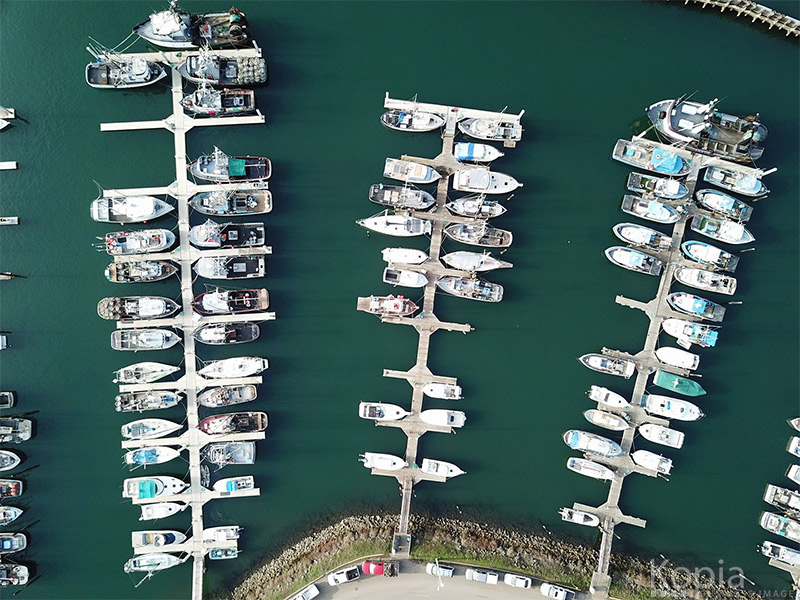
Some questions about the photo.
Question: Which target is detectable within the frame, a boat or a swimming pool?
boat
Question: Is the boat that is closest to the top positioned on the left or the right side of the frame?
left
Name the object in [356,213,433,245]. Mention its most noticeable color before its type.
white boat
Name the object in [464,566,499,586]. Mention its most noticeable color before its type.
white vehicle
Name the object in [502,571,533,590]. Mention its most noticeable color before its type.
white car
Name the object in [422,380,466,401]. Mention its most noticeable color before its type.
white boat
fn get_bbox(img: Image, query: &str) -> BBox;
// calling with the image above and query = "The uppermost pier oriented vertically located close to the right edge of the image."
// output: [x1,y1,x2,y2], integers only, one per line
[573,134,764,531]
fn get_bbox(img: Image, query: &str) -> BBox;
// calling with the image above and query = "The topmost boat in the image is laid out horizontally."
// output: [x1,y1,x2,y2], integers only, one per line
[129,0,252,49]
